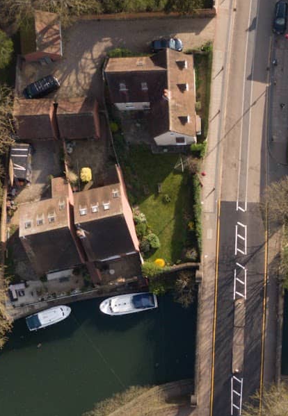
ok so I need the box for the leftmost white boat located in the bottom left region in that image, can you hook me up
[24,307,72,332]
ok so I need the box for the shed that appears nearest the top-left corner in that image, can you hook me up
[20,7,65,59]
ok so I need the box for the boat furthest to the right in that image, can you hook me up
[99,292,161,315]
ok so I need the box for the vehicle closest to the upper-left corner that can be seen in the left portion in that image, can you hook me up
[23,75,60,100]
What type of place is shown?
residential area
